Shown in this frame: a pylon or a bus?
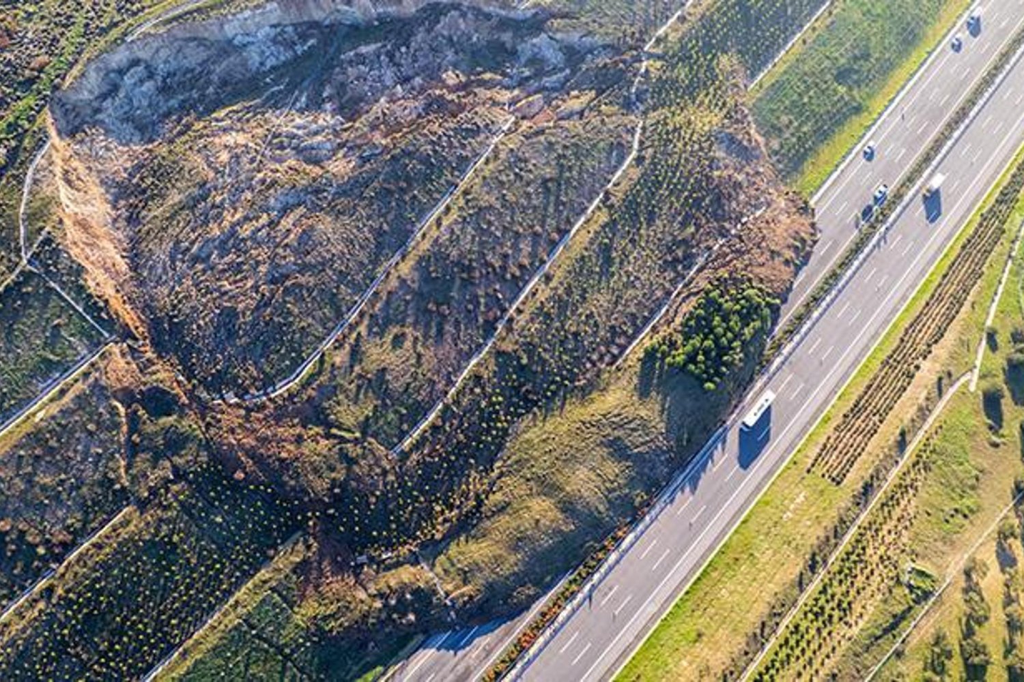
bus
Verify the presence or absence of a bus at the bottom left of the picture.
No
